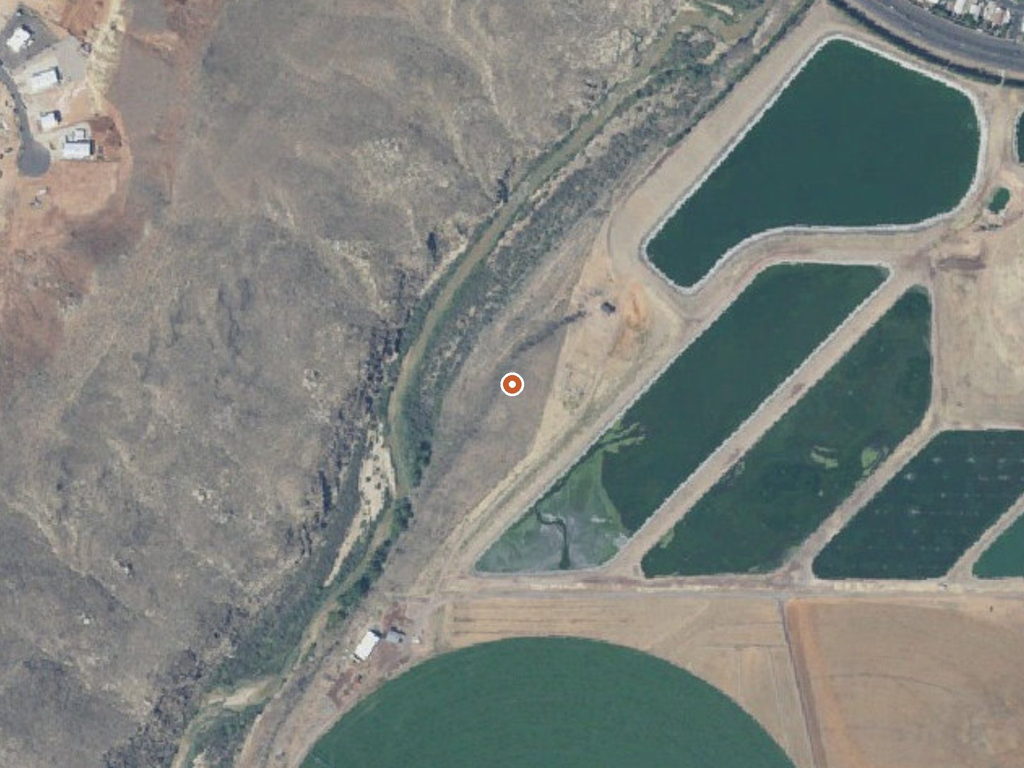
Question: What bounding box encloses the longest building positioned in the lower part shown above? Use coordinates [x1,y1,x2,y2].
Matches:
[355,632,379,661]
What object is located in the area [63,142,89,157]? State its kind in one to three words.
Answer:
house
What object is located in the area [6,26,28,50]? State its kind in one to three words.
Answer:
house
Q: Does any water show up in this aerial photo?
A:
Yes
